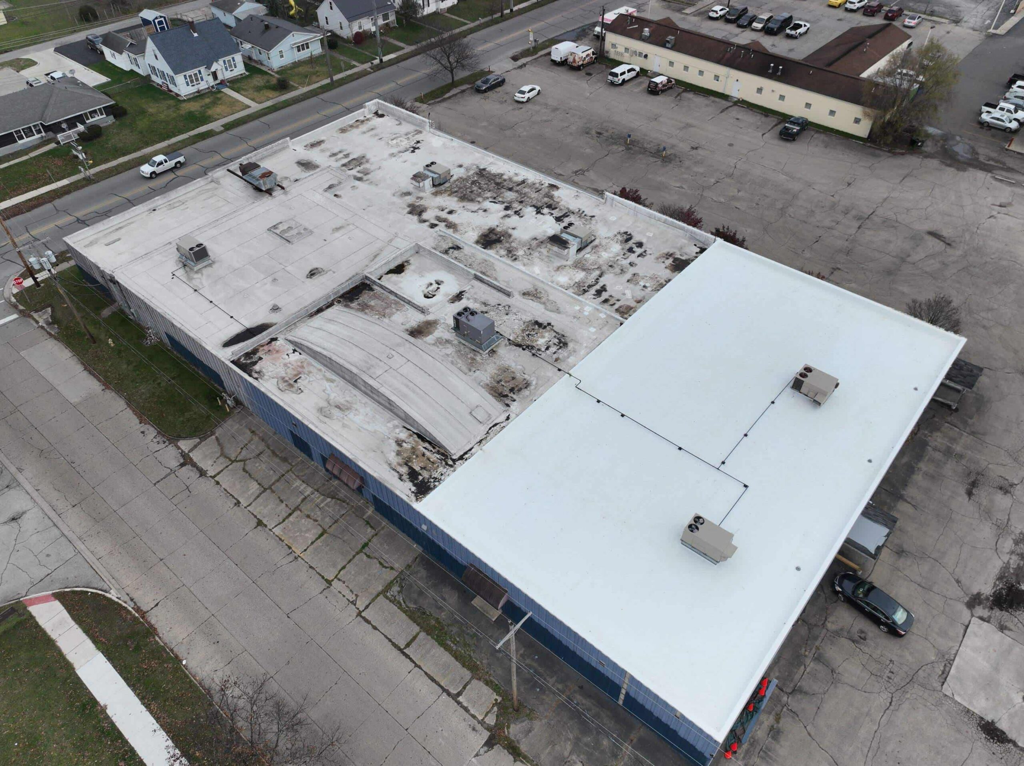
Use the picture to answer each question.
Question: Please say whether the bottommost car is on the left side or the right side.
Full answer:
You can find the bottommost car on the right side of the picture.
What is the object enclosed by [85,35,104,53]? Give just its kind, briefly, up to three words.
car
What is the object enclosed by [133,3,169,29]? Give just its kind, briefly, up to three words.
shed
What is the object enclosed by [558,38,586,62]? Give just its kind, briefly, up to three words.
vehicle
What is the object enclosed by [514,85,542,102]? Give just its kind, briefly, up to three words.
car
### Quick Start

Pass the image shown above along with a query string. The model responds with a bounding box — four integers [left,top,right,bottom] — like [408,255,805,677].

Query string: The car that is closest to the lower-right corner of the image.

[826,566,923,642]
